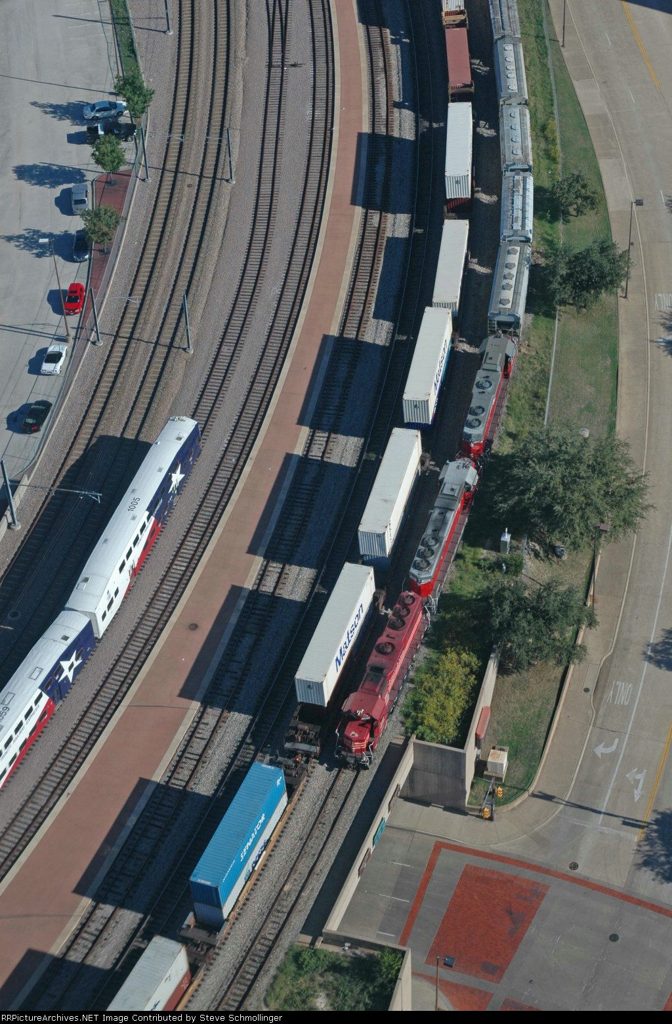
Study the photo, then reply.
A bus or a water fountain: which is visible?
bus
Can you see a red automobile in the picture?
Yes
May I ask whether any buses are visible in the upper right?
No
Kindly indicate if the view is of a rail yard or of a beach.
rail yard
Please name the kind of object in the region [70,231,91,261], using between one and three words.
car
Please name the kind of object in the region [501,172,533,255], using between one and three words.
rail car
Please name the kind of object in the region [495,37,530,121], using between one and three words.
rail car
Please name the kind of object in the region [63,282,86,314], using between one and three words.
car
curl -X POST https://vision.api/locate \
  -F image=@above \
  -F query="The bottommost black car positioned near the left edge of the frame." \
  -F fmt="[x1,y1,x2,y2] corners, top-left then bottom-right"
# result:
[19,399,51,433]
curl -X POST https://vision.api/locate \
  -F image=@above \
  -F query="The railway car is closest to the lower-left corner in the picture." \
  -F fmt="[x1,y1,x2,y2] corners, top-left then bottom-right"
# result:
[166,946,208,1024]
